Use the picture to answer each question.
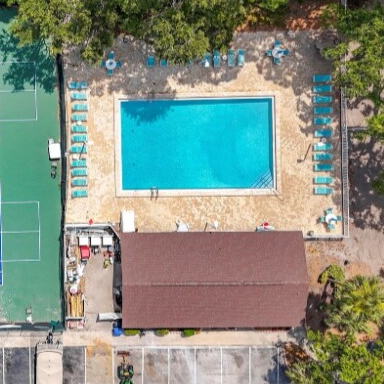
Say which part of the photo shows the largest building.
bottom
